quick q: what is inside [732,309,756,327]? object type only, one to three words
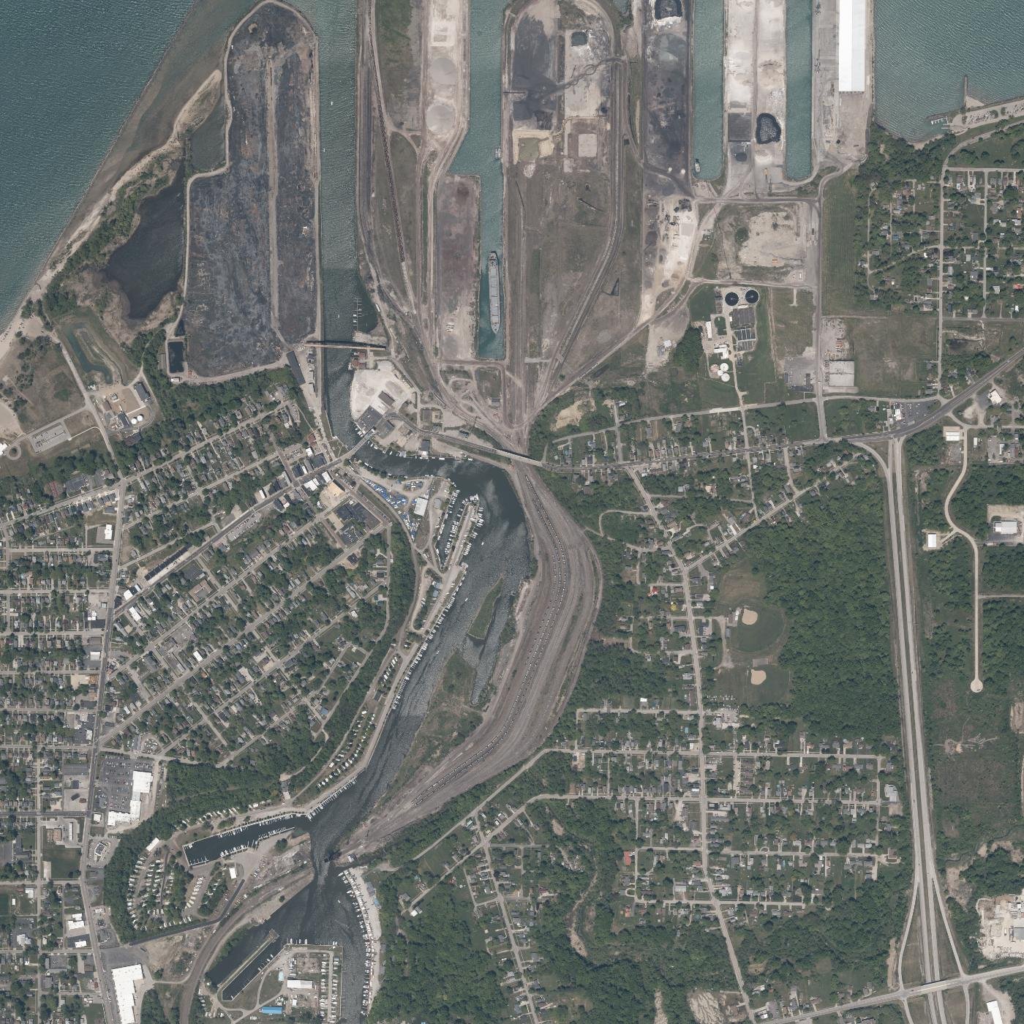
house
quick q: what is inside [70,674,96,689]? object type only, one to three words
building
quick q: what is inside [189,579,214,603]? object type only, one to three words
building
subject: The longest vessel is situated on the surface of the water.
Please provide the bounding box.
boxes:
[488,250,501,334]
